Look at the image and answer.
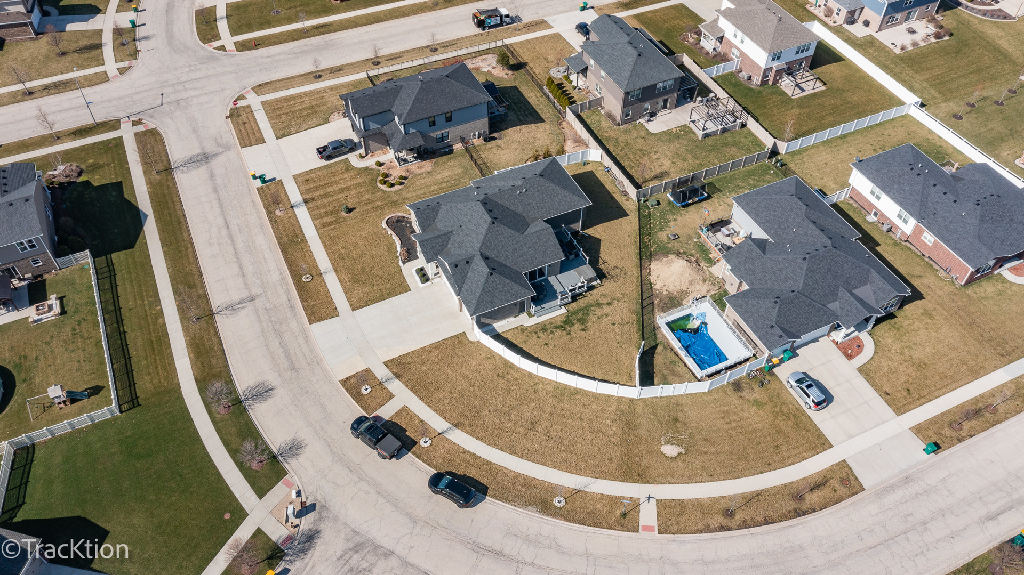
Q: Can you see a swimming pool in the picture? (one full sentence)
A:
Yes, a swimming pool is visible in the scene.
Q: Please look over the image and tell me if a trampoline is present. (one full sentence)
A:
Yes, you can see a trampoline in this photo.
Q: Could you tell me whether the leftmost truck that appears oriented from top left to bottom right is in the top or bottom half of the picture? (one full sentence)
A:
The bottom half of the photo is where the leftmost truck that appears oriented from top left to bottom right is.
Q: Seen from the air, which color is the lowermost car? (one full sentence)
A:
From above, the lowermost car appears black.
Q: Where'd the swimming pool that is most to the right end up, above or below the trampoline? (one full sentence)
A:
Looking at the photo, you'll find the swimming pool that is most to the right below the trampoline.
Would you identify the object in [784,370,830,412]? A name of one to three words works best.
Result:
car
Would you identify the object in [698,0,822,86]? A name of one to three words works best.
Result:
house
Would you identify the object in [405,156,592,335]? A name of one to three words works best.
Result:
house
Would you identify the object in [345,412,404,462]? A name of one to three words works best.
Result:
truck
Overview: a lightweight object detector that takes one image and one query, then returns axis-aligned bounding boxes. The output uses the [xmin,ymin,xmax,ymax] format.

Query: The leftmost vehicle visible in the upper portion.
[315,137,358,161]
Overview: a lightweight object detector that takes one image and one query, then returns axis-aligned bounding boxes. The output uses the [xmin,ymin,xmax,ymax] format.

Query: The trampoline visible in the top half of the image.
[667,177,708,209]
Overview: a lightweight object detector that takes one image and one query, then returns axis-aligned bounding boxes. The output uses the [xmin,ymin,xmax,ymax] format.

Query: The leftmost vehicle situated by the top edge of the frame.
[474,3,513,30]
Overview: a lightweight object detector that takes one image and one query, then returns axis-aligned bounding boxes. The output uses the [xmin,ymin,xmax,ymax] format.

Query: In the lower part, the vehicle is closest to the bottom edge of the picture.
[425,471,481,511]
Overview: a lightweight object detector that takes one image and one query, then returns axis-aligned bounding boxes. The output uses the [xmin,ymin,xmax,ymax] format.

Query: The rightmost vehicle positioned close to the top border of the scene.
[574,23,589,41]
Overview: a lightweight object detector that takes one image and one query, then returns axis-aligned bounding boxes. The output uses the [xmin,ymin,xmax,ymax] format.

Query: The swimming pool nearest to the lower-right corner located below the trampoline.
[656,301,746,378]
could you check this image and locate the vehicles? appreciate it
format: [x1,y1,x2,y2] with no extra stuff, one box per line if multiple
[574,23,589,41]
[784,370,830,412]
[474,3,513,30]
[345,412,404,462]
[315,137,358,161]
[425,471,481,511]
